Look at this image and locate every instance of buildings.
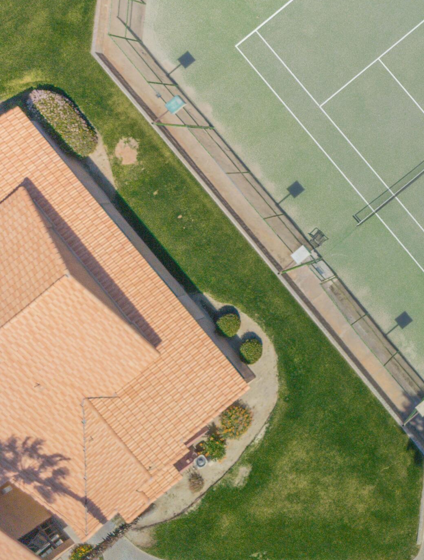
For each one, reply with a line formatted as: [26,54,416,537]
[0,523,73,560]
[0,106,257,543]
